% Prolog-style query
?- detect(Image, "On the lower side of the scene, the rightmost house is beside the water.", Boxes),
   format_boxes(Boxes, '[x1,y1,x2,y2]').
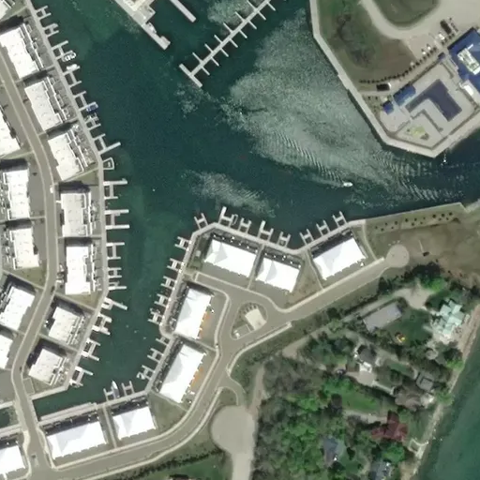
[429,300,471,347]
